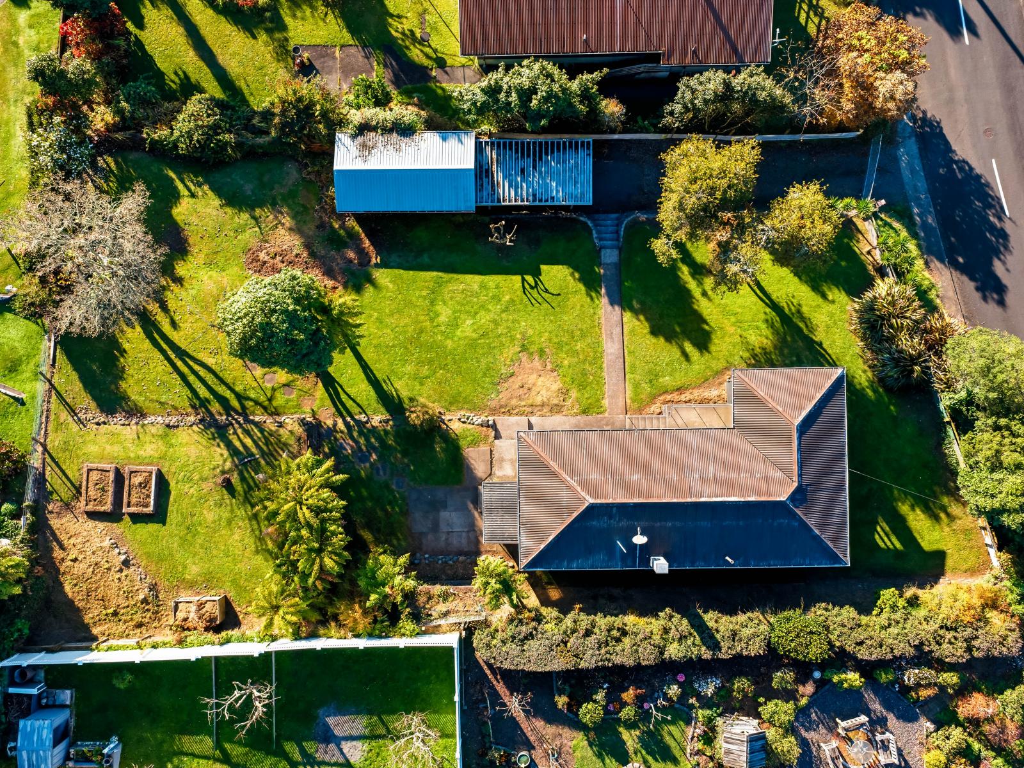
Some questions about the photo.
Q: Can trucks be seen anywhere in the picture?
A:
No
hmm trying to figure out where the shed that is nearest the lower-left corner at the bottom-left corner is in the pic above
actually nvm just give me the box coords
[10,703,76,768]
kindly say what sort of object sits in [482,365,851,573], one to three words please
house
